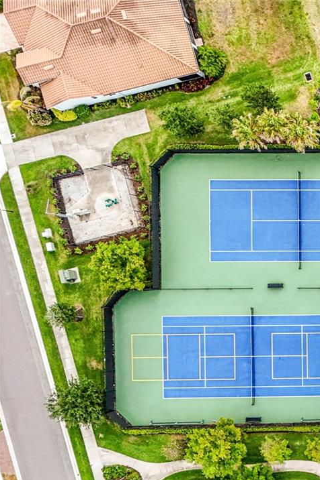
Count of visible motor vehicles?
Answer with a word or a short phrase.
0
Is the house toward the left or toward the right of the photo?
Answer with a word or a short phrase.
left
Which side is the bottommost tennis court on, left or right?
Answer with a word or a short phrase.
right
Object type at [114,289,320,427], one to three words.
tennis court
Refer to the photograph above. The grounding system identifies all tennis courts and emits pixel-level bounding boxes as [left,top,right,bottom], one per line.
[114,289,320,427]
[161,154,320,289]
